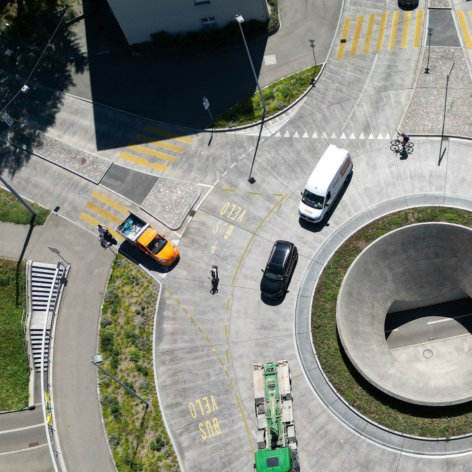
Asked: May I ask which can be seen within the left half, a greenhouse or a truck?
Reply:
truck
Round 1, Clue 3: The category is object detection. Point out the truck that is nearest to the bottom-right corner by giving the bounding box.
[255,358,296,472]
